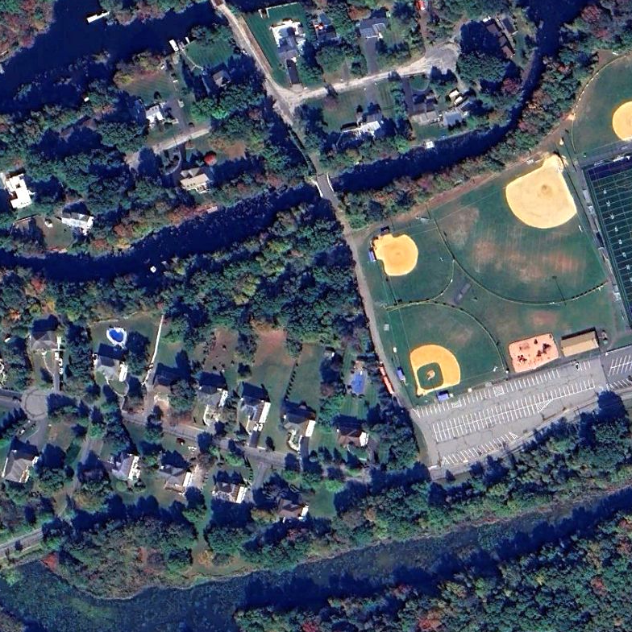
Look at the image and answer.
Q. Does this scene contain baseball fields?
Yes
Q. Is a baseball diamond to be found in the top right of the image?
Yes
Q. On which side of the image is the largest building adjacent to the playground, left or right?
right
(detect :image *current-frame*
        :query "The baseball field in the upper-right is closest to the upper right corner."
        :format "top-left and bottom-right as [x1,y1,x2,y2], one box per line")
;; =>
[569,54,632,159]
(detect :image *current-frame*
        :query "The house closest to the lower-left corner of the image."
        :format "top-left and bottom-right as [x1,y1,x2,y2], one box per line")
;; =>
[2,448,40,482]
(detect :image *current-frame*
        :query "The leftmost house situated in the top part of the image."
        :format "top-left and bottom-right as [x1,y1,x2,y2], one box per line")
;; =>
[4,171,37,207]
